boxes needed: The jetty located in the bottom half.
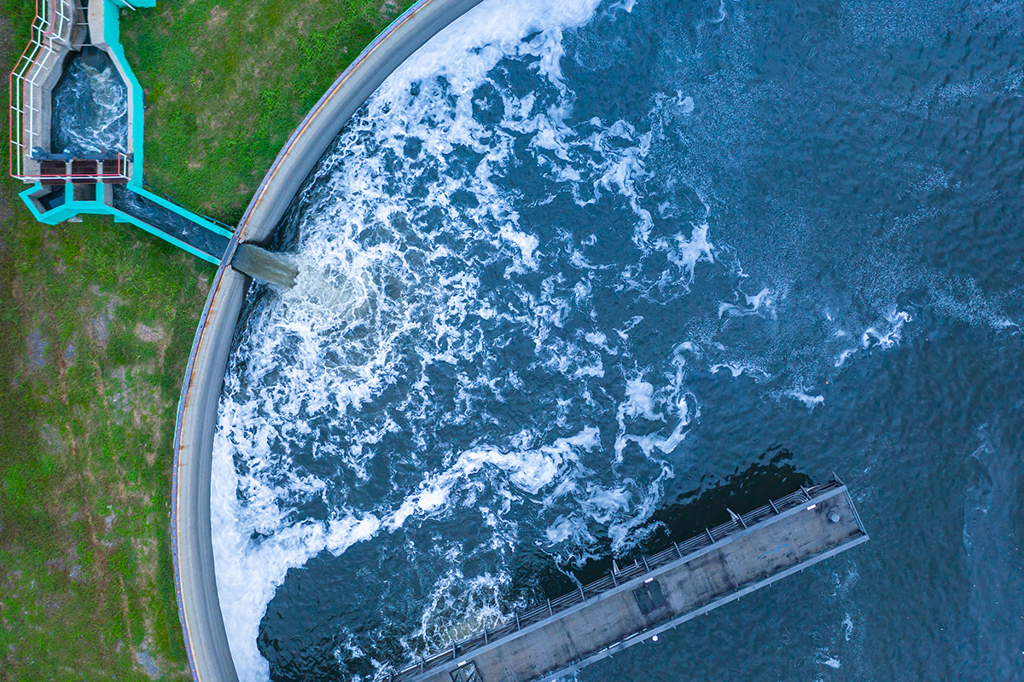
[368,467,871,682]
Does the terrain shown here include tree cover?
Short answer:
No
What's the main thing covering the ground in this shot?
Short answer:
water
